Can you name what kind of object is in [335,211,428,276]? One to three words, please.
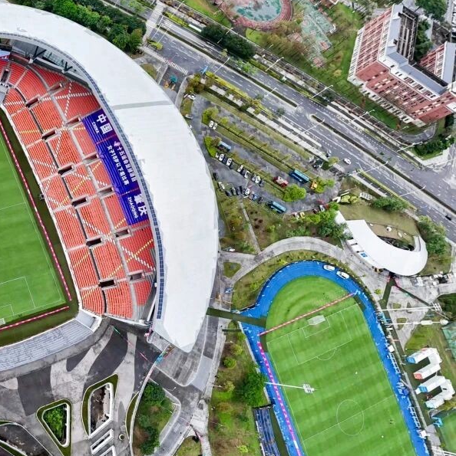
building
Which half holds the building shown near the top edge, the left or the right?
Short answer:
right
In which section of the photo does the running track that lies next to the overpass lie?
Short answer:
top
